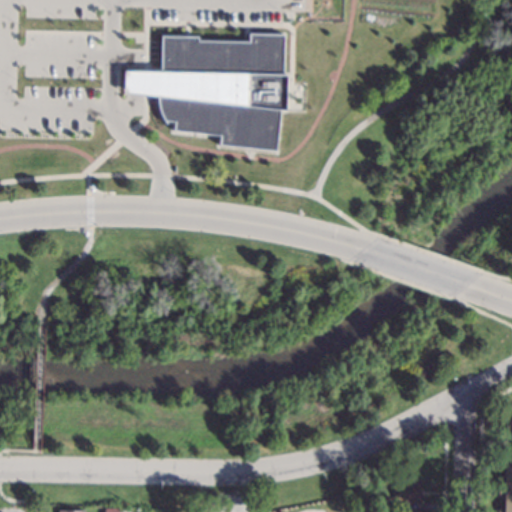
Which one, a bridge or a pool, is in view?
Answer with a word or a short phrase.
bridge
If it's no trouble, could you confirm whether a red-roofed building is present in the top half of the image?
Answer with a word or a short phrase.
No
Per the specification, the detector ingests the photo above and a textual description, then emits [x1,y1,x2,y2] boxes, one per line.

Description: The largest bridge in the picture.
[352,231,484,303]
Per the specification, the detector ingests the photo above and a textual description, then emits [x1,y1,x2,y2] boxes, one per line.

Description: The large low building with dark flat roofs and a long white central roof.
[124,34,288,150]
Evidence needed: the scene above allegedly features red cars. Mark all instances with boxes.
[269,11,275,24]
[88,87,94,100]
[276,12,281,24]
